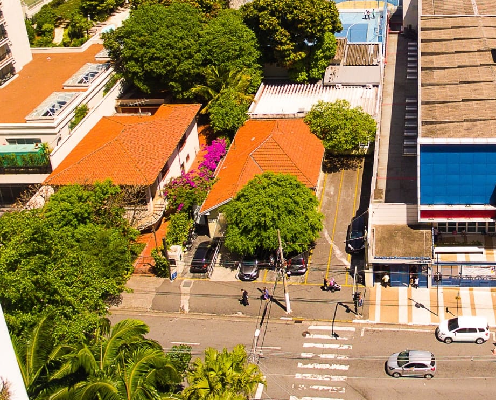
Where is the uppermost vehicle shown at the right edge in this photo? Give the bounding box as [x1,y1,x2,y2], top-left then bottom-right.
[437,313,490,341]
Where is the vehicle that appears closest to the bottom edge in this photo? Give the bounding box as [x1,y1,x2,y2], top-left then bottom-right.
[386,348,435,376]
